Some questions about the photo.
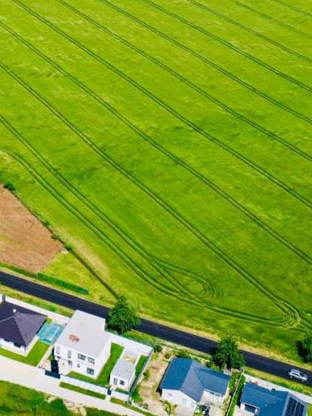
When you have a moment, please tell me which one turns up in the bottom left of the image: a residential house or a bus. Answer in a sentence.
You can see a residential house in the bottom left of the image.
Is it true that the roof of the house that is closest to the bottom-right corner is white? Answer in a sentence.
No, the color of the roof of the house that is closest to the bottom-right corner is blue.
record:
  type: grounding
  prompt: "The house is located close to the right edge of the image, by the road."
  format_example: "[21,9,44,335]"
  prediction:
[240,382,304,416]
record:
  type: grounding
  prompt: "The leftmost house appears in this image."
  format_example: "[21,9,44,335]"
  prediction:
[0,300,45,356]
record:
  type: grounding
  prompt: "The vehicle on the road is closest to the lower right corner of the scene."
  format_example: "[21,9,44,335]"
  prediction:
[287,367,307,380]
